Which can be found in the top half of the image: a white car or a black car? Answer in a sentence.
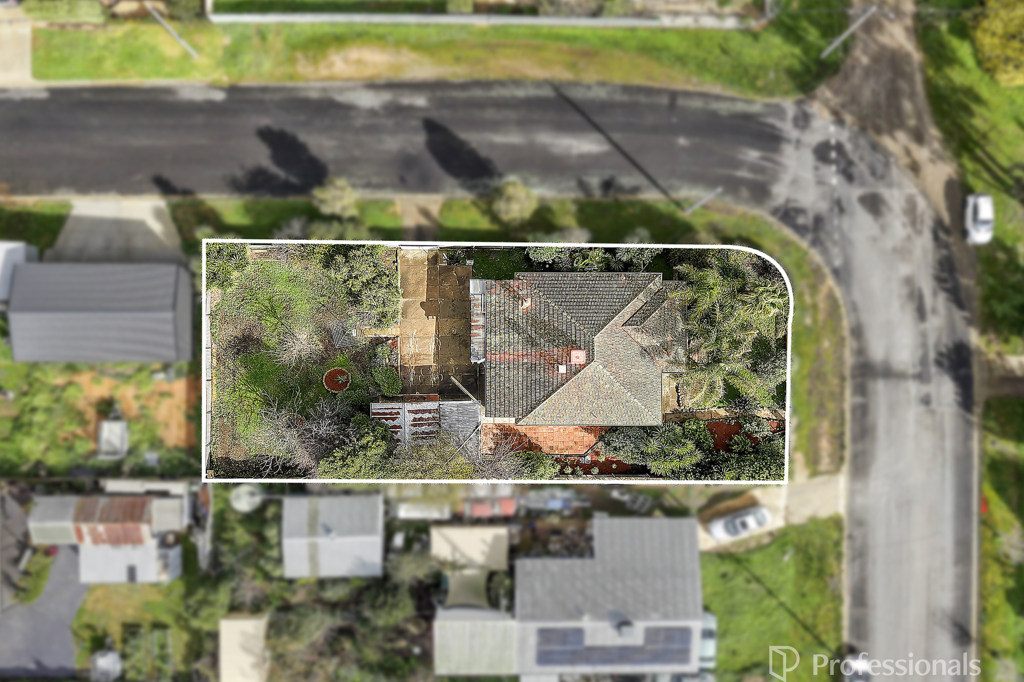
Looking in the top half of the image, you will find a white car.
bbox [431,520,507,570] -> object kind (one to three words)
shed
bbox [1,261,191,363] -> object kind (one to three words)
shed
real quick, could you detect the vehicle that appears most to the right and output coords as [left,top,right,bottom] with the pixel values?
[961,191,994,246]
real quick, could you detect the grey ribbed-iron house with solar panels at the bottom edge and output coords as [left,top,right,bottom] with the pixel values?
[514,516,705,673]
